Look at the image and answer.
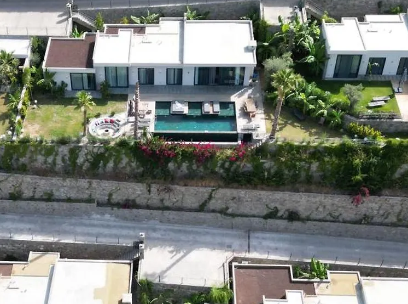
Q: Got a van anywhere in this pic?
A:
No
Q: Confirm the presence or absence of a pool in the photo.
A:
Yes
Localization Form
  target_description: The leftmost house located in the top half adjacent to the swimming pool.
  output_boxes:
[43,17,258,90]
